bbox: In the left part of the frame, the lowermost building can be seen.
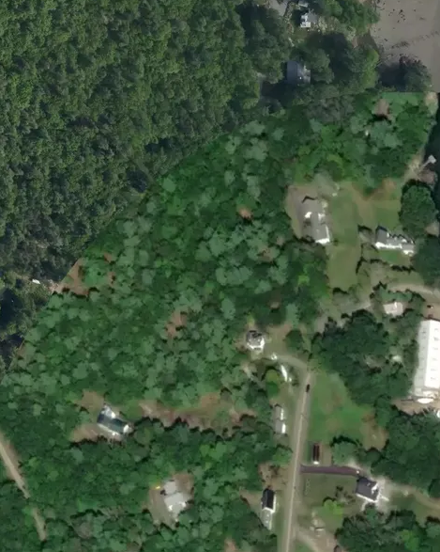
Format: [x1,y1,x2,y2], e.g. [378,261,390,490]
[163,480,187,513]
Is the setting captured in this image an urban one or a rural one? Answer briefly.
rural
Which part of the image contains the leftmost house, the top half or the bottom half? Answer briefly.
bottom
